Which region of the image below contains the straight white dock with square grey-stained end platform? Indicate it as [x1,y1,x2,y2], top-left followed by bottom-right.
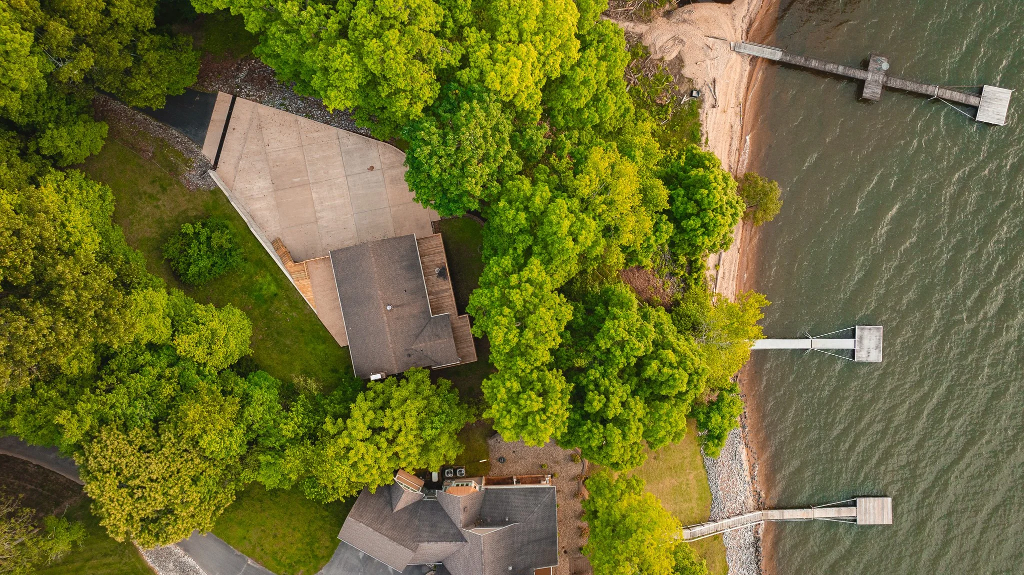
[737,325,884,362]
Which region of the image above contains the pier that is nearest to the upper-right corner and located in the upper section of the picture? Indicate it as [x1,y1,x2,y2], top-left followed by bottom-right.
[730,42,1020,127]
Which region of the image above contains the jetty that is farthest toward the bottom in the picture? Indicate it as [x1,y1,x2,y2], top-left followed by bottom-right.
[675,497,893,542]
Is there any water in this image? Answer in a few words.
Yes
